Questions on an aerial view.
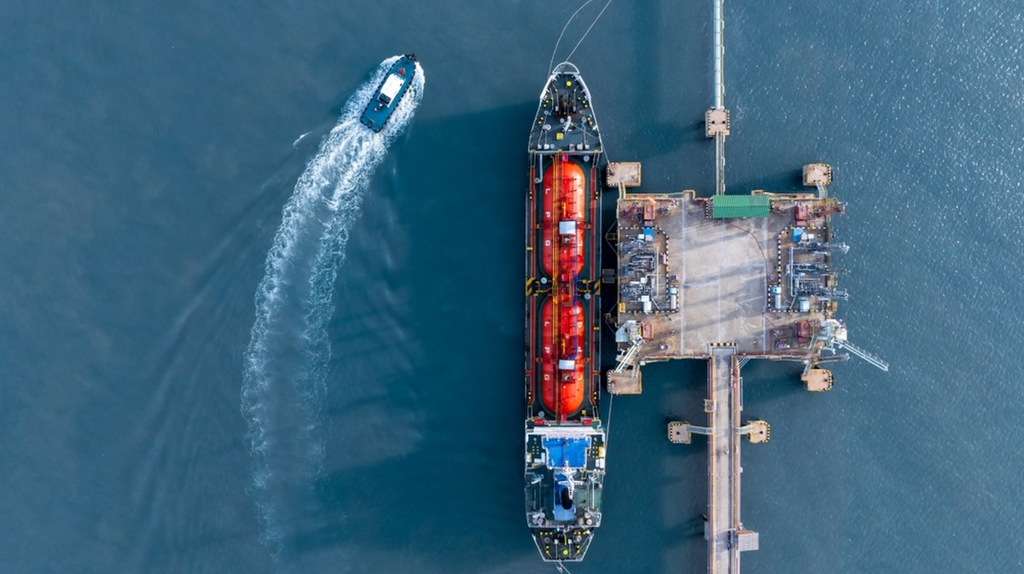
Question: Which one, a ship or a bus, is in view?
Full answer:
Visible in the photo is a ship.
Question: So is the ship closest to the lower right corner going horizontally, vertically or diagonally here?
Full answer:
In this picture, the ship closest to the lower right corner lies vertically.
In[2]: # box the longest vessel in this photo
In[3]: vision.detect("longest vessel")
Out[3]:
[524,61,606,561]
